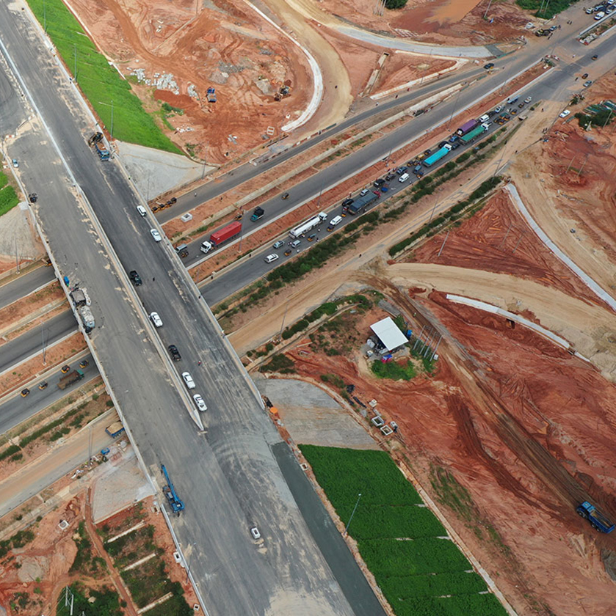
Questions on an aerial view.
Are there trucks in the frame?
Yes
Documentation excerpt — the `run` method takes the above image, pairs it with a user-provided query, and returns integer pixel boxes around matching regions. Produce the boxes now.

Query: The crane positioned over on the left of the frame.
[164,462,190,522]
